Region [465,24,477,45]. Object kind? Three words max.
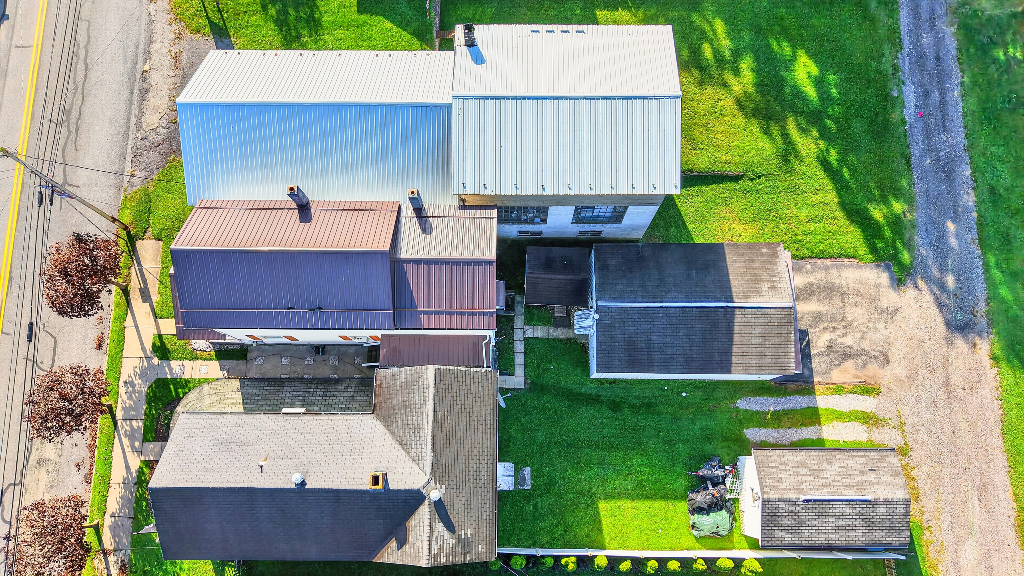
chimney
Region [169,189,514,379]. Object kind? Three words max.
house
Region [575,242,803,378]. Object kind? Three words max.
building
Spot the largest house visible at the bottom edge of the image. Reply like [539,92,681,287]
[148,363,500,568]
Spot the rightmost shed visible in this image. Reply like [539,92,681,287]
[739,446,912,549]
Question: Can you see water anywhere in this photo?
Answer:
No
